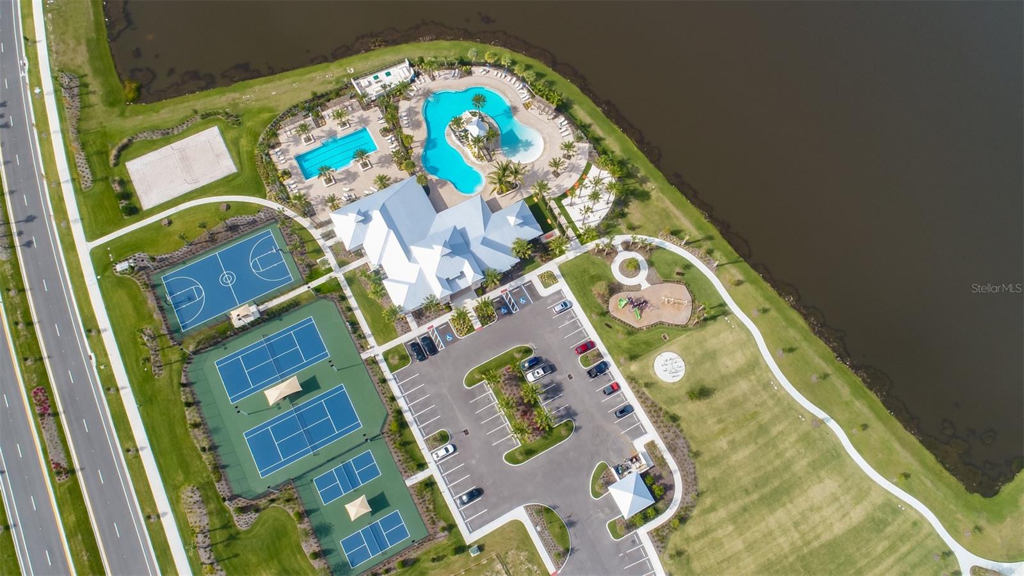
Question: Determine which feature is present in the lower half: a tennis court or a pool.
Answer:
tennis court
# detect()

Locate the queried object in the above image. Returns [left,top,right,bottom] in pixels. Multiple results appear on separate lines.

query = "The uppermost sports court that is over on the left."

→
[125,126,238,211]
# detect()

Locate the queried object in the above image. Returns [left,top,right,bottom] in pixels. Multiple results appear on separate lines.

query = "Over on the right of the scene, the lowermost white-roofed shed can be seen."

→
[607,473,655,516]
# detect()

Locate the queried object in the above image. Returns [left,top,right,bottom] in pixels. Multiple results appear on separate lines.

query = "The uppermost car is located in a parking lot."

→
[554,300,573,313]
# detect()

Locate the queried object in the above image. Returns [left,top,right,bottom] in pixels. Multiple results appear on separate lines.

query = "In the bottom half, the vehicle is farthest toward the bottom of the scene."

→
[460,488,481,504]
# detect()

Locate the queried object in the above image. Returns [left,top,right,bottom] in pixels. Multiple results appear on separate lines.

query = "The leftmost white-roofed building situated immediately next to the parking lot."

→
[329,175,543,314]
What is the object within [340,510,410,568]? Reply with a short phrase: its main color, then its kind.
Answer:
blue sports court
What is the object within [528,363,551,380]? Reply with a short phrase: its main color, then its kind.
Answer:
white vehicle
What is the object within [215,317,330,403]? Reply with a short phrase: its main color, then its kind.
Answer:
blue tennis court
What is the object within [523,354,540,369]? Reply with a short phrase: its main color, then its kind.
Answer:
blue car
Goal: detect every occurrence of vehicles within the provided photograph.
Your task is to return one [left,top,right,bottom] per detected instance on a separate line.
[523,354,540,369]
[433,444,454,460]
[421,335,436,355]
[528,363,551,380]
[615,403,635,418]
[410,341,425,360]
[554,300,573,313]
[586,361,610,377]
[576,340,595,354]
[600,380,624,397]
[460,488,481,504]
